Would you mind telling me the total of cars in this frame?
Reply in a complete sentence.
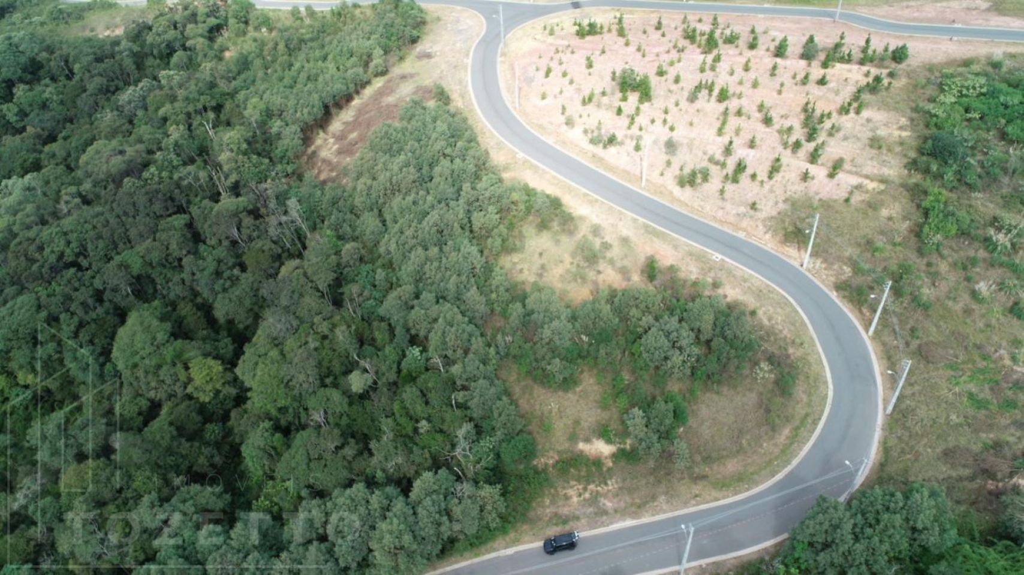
In total, 1 car can be seen.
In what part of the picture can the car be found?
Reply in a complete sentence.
Look in the bottom portion of the view to spot the car.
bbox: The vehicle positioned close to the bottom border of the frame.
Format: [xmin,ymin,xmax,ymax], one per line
[542,529,581,557]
